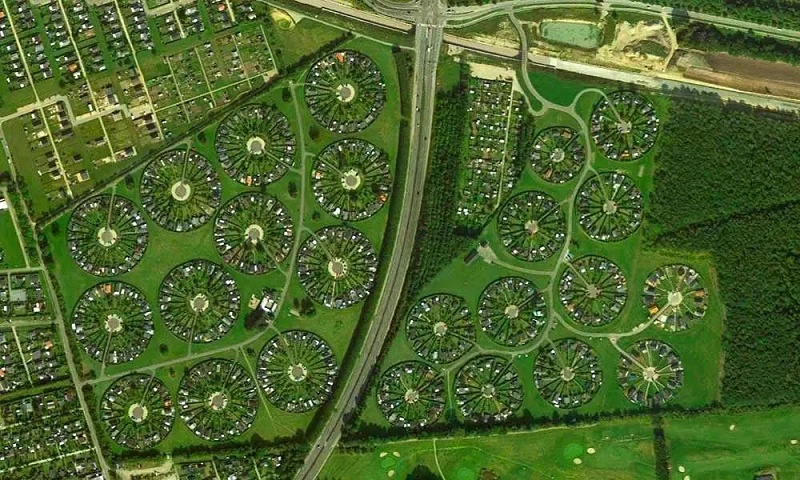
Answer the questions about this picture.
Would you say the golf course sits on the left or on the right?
right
